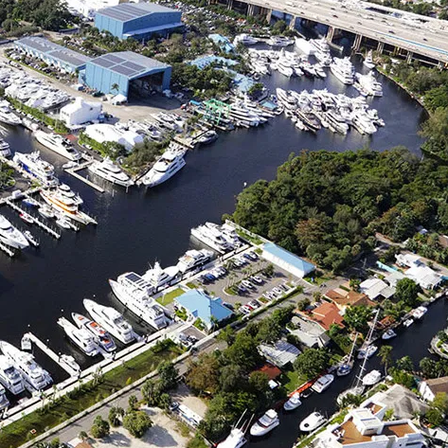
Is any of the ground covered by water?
Yes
